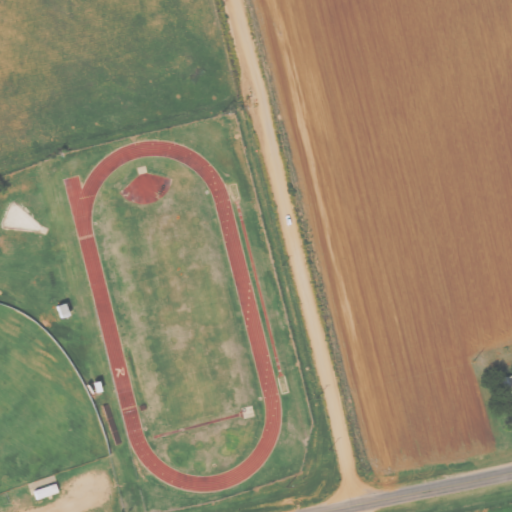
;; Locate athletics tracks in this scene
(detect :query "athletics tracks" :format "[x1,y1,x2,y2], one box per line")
[64,141,282,492]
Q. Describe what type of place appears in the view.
sports ground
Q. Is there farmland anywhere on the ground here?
Yes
